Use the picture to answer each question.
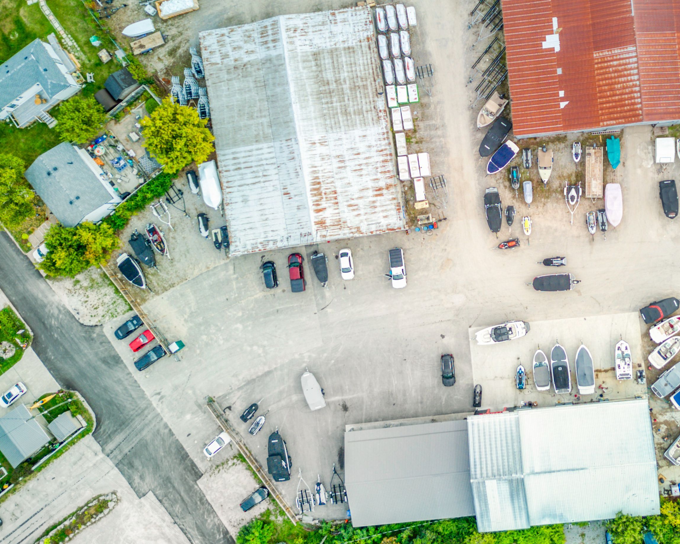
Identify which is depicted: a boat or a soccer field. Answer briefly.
boat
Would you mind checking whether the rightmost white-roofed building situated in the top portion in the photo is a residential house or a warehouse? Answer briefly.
warehouse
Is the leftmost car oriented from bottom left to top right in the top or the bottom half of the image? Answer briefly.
bottom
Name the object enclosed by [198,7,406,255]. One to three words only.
warehouse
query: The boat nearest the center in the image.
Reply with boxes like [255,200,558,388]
[312,250,329,286]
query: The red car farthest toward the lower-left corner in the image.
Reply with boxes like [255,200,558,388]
[126,327,159,352]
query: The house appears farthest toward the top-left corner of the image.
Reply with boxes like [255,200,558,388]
[0,32,91,125]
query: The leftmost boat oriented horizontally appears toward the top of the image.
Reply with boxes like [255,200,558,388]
[121,19,156,35]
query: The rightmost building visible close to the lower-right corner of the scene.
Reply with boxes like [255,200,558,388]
[468,393,658,531]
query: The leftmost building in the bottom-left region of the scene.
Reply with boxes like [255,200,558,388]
[0,400,54,468]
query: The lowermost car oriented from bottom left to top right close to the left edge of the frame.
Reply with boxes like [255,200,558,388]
[0,379,32,409]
